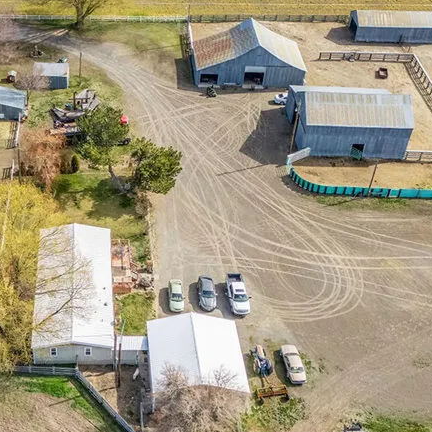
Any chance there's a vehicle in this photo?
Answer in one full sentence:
Yes, this view includes a vehicle.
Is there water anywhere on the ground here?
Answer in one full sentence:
No, there is no water in the image.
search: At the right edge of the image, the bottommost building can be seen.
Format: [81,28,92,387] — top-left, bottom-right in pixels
[282,86,413,160]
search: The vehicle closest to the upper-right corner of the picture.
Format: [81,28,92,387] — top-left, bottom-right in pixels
[267,92,285,105]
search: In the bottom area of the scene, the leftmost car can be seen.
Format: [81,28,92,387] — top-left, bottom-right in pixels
[168,280,186,312]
